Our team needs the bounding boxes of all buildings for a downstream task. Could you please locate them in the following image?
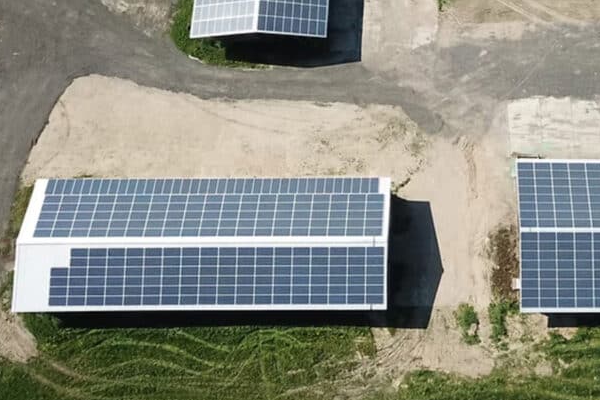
[190,0,330,45]
[11,177,391,313]
[513,159,600,314]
